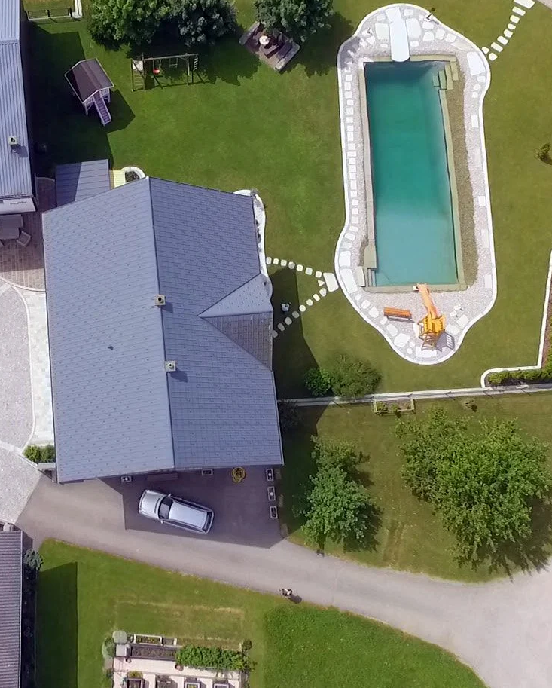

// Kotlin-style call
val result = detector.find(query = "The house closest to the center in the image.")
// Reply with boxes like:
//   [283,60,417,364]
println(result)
[39,174,287,481]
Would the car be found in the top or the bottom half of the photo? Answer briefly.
bottom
